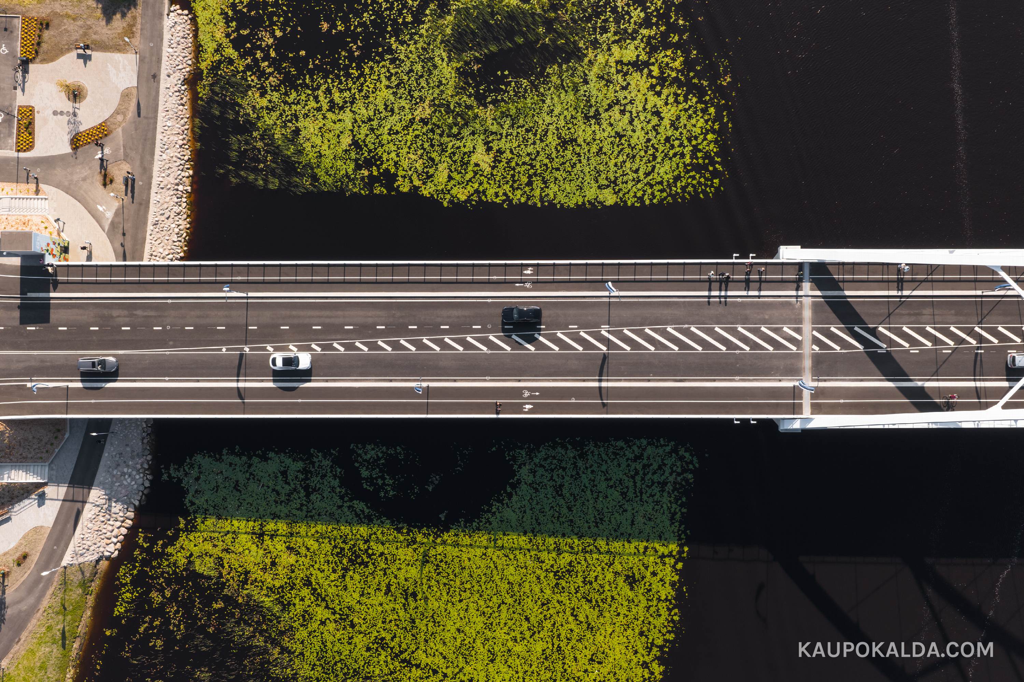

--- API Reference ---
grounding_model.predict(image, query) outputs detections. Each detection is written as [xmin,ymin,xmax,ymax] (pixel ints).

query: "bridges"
[0,246,1024,433]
